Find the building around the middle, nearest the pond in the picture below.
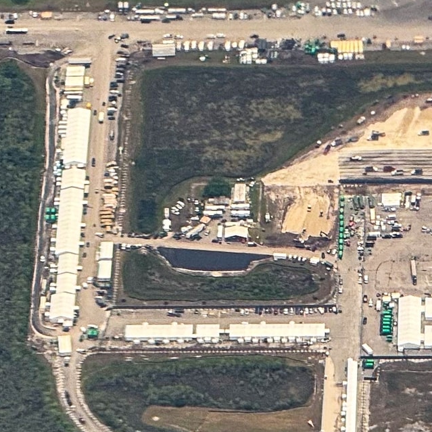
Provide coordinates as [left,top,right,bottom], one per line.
[225,225,248,241]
